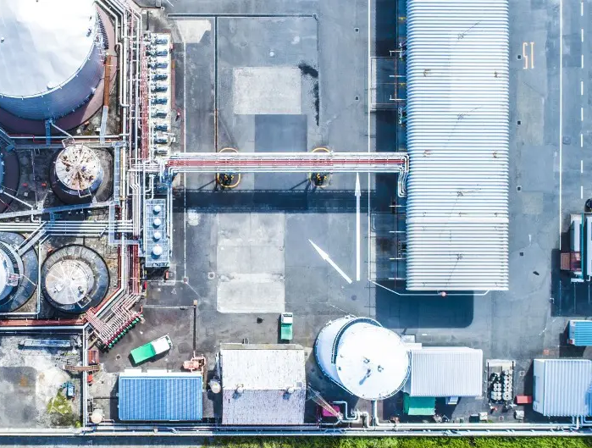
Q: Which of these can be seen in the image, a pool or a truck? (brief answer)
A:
truck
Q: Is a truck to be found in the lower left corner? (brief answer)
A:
Yes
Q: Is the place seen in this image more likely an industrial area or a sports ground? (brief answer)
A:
industrial area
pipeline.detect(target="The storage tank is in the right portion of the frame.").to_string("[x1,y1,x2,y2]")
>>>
[310,313,413,402]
